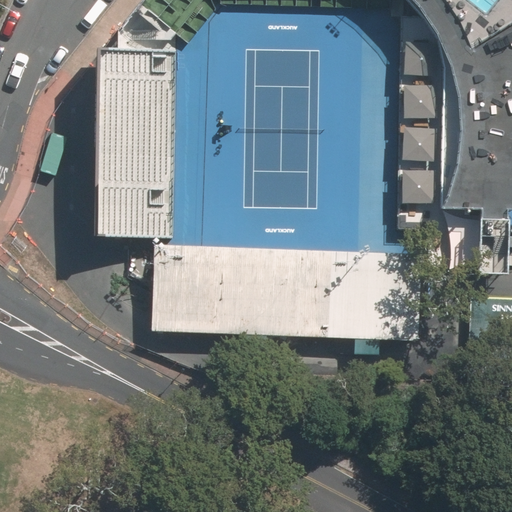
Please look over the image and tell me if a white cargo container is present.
No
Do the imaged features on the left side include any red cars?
Yes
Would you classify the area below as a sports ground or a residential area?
sports ground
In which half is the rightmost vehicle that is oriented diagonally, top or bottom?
top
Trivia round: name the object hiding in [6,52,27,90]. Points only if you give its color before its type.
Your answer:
white truck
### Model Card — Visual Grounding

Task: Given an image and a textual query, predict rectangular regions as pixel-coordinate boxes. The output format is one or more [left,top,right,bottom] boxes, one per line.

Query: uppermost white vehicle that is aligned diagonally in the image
[81,0,108,27]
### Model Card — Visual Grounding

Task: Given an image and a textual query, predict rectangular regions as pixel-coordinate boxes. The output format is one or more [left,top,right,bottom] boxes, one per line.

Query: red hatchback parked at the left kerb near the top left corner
[1,10,20,38]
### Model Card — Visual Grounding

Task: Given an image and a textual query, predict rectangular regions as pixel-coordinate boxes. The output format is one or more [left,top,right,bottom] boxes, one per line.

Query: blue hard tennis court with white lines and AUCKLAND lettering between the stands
[170,0,405,252]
